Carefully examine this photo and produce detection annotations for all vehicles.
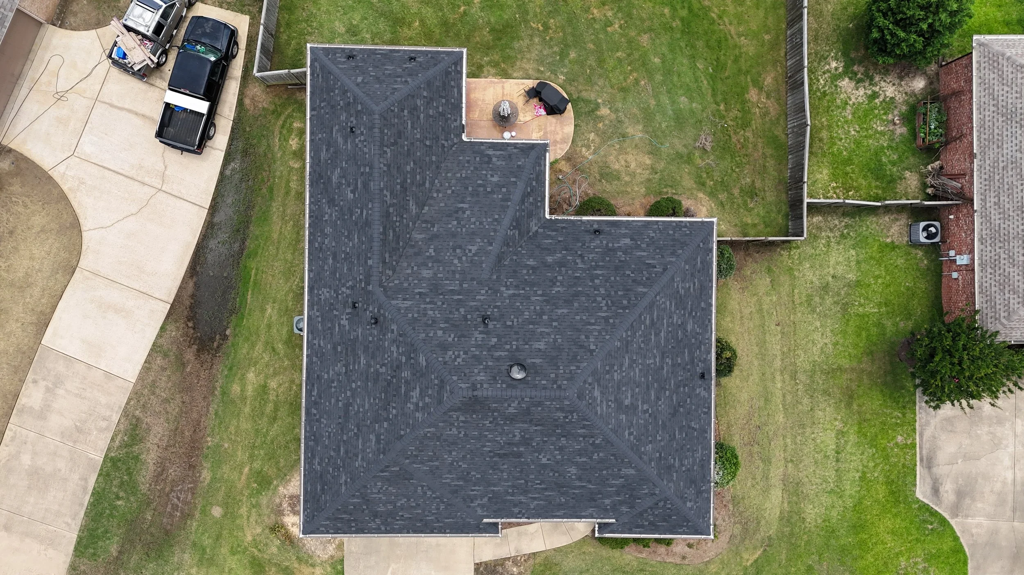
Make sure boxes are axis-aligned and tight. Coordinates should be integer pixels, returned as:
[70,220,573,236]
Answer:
[106,0,200,83]
[152,15,242,157]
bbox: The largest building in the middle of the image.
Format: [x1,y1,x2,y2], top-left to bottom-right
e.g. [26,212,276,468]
[300,43,718,538]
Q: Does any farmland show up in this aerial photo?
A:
No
